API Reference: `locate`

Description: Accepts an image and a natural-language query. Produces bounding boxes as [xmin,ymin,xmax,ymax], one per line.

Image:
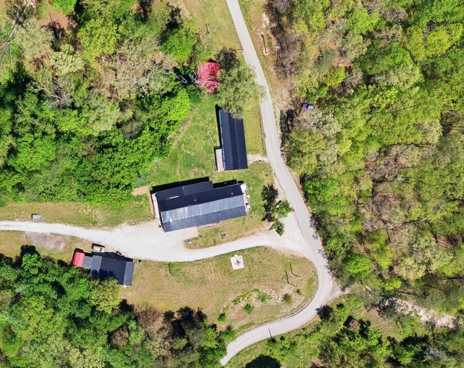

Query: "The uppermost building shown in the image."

[214,108,248,171]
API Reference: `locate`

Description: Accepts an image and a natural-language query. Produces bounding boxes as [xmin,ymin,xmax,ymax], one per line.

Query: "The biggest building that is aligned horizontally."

[151,181,245,232]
